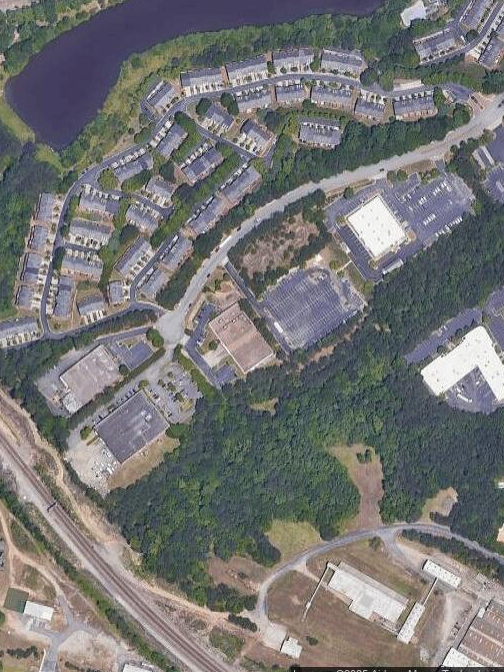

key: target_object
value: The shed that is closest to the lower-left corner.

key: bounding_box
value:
[23,599,54,622]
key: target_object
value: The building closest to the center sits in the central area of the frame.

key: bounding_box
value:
[210,302,275,373]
